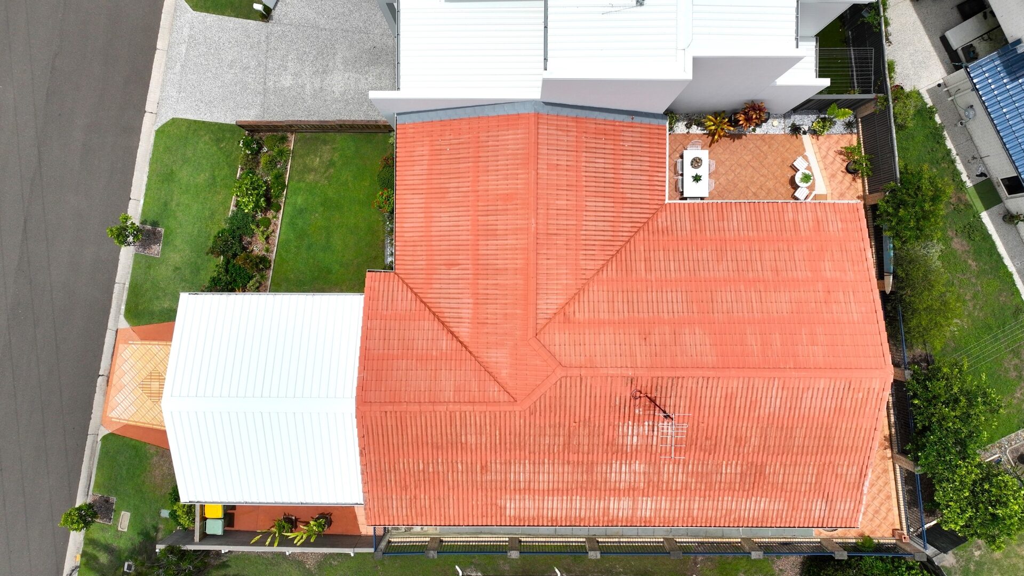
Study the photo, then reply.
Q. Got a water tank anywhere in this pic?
No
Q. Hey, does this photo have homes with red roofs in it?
Yes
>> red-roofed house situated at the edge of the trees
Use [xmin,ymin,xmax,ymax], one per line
[352,100,895,530]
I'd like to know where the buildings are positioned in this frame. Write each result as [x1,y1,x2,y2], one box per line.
[942,0,1024,236]
[352,100,895,530]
